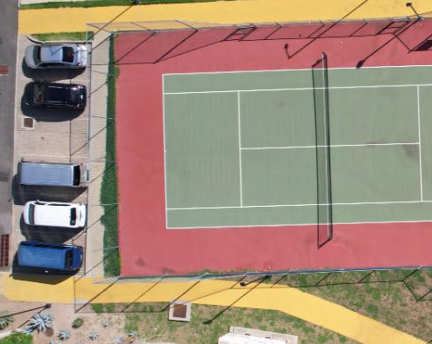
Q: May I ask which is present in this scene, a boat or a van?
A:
van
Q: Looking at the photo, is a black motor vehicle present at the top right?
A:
No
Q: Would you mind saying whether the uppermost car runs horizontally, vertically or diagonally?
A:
horizontally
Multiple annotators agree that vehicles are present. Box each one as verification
[23,40,88,71]
[17,242,88,273]
[21,78,87,111]
[17,160,91,190]
[24,199,88,230]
